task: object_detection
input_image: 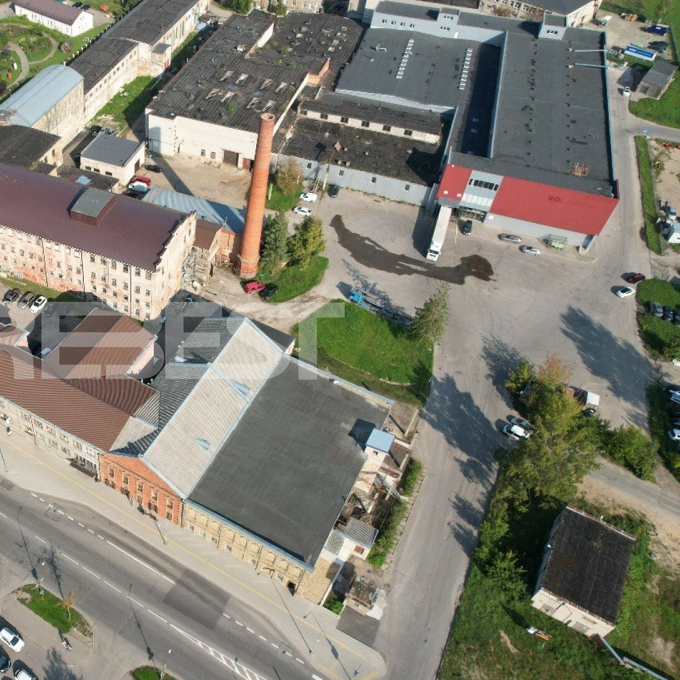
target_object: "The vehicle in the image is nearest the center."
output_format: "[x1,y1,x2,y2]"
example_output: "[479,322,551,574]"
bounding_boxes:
[342,293,410,335]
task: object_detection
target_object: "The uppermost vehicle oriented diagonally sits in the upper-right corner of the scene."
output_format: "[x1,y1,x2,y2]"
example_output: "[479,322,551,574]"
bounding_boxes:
[601,13,614,27]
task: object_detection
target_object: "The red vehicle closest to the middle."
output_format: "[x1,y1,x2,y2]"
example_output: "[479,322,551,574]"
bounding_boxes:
[243,280,266,293]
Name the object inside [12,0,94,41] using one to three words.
house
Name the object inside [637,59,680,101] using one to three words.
shed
